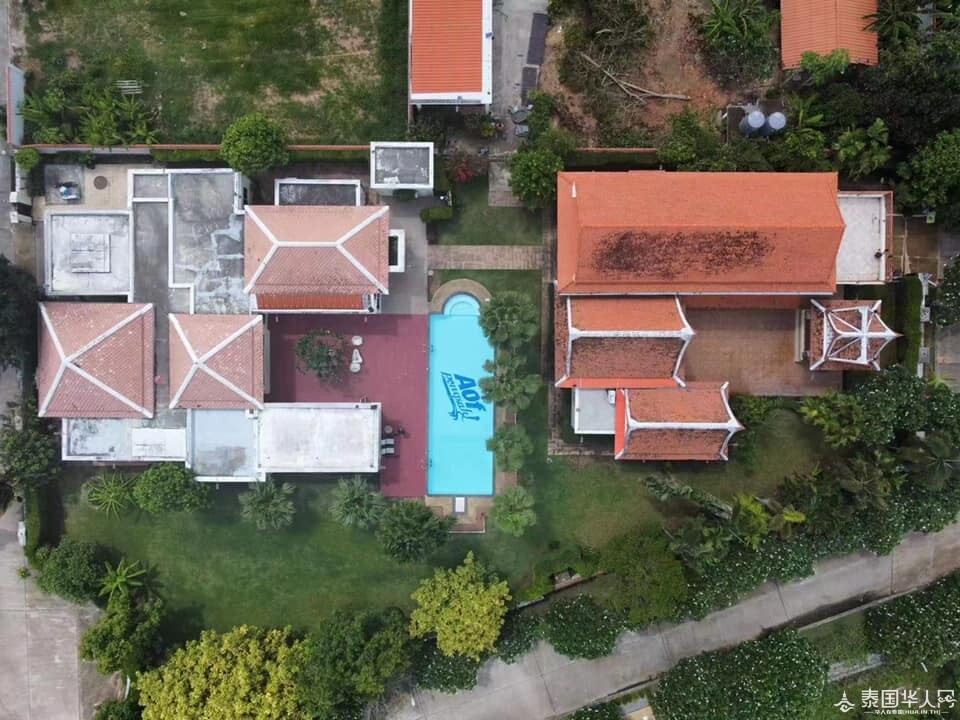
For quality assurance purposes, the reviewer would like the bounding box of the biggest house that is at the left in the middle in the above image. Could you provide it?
[36,169,408,487]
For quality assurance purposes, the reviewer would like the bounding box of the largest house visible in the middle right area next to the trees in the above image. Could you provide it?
[556,172,895,465]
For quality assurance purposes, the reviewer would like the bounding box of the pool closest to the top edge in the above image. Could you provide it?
[424,280,496,497]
